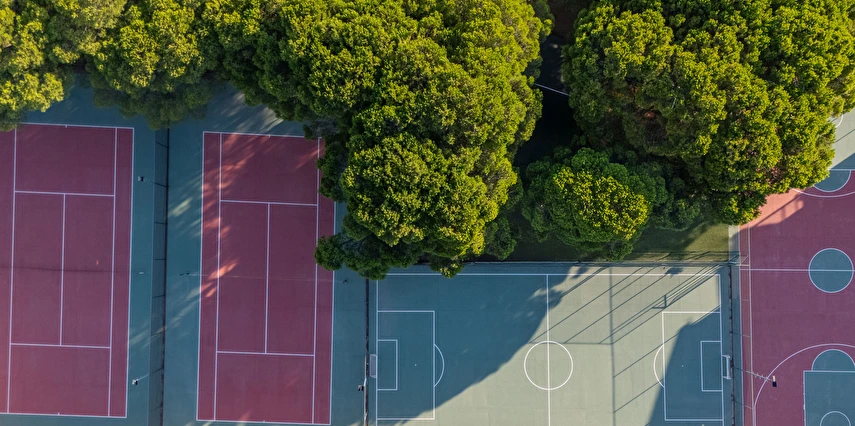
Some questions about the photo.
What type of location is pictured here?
sports ground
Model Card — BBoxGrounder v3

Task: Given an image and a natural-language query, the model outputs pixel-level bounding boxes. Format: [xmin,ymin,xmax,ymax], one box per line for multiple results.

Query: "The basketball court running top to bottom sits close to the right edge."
[739,18,855,426]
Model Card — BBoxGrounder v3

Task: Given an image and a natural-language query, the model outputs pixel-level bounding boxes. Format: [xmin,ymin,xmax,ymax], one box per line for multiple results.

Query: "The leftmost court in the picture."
[0,28,167,426]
